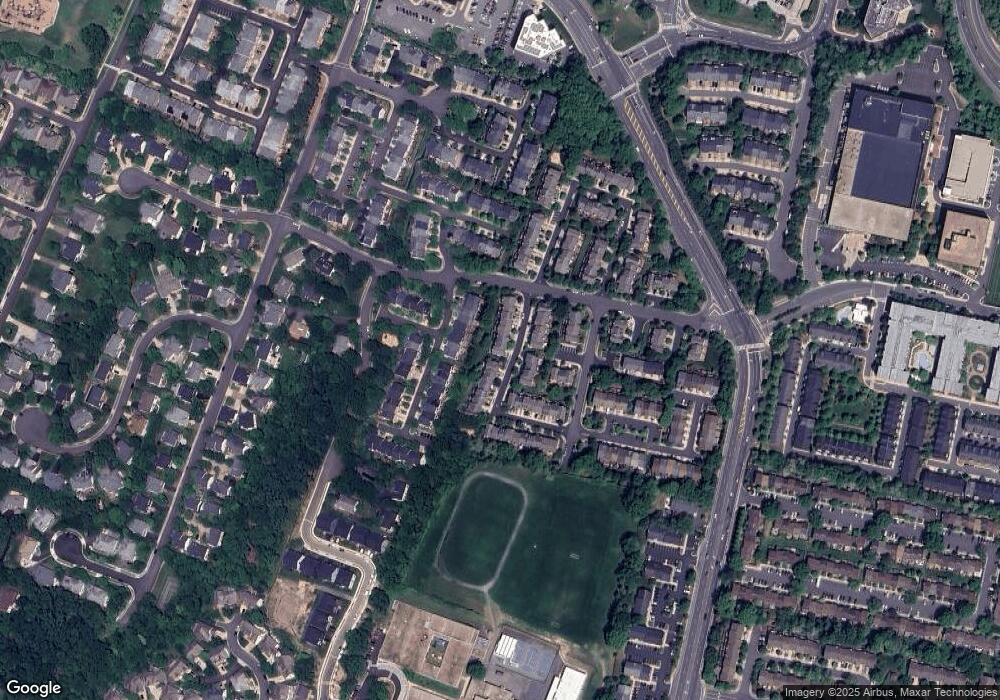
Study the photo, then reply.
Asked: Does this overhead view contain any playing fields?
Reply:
Yes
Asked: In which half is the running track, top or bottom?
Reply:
bottom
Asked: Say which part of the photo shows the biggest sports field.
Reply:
bottom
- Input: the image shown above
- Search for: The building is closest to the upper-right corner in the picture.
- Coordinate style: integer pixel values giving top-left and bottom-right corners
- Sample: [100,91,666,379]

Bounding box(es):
[864,0,912,41]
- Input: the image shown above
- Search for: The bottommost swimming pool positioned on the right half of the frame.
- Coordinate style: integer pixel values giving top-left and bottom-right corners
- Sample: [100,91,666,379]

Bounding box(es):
[910,342,935,372]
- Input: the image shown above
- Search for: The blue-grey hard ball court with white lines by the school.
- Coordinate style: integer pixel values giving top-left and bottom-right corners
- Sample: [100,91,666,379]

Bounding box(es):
[512,638,558,680]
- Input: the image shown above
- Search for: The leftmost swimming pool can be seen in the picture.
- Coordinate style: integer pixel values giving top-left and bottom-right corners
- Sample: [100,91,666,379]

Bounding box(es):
[835,305,853,322]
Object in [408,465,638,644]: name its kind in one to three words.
sports field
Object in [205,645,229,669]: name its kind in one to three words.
house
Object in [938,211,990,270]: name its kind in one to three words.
building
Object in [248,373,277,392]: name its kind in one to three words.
house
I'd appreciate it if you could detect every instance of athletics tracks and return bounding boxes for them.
[436,472,527,589]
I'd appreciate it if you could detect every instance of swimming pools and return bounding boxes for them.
[910,342,935,372]
[835,305,853,322]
